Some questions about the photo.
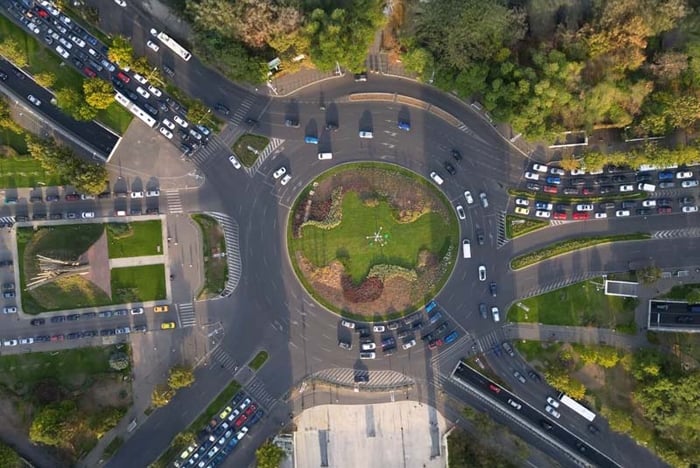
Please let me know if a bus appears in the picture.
Yes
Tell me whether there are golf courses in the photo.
No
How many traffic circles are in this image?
one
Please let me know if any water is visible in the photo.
No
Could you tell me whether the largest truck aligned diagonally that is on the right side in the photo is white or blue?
white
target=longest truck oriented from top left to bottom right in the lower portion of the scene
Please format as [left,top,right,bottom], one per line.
[554,392,599,424]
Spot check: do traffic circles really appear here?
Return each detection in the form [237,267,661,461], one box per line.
[243,118,504,366]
